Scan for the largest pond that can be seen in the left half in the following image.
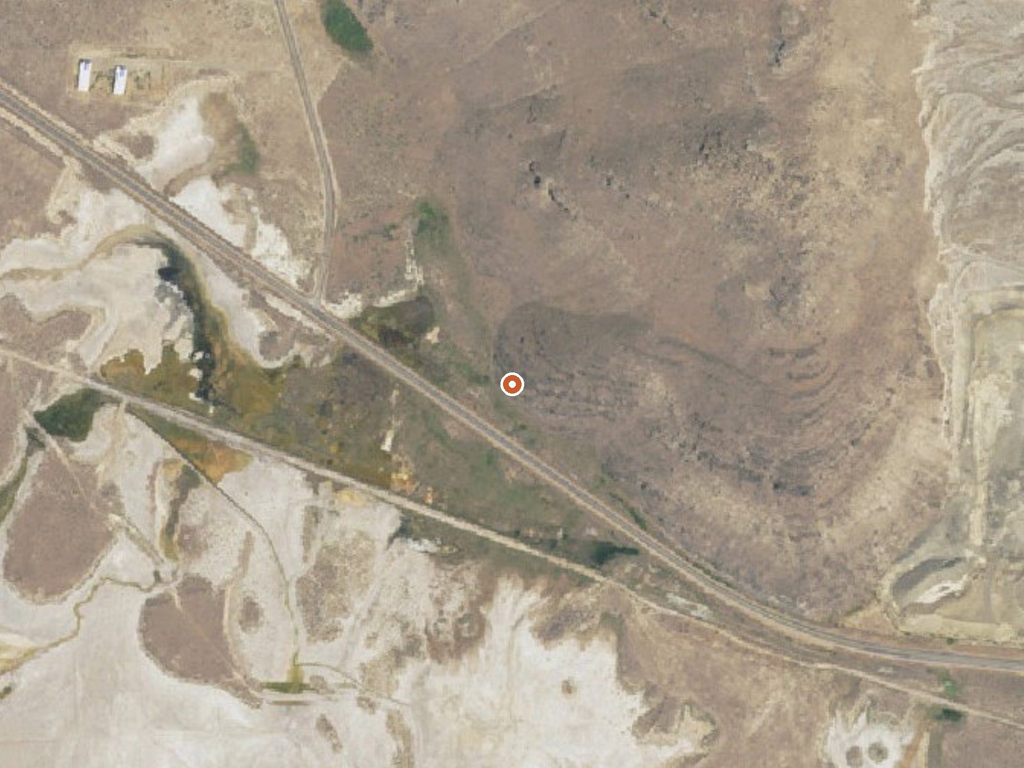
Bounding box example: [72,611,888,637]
[142,240,216,409]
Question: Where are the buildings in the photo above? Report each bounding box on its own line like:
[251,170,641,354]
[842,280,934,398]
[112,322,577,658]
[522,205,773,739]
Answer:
[78,59,92,92]
[113,66,126,95]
